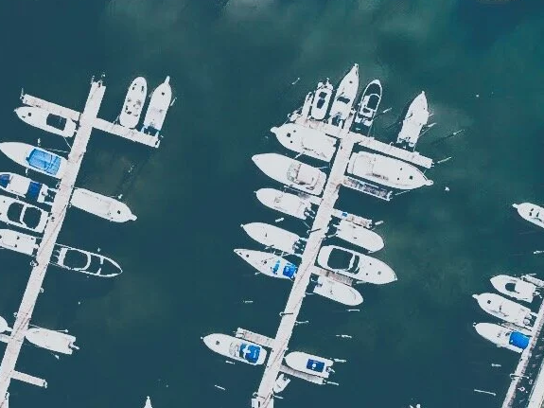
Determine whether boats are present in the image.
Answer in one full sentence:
Yes, there's a boat down there.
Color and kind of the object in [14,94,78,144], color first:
white boat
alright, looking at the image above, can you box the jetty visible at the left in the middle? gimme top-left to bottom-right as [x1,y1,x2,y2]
[0,81,164,408]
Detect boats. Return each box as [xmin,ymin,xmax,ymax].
[282,352,339,383]
[474,294,539,337]
[233,248,300,282]
[305,274,364,308]
[270,124,340,167]
[24,328,81,357]
[14,94,78,144]
[120,76,149,129]
[342,151,440,190]
[346,79,388,138]
[0,196,51,237]
[201,334,269,374]
[275,371,290,394]
[69,187,137,222]
[314,244,397,285]
[514,203,544,231]
[488,276,543,309]
[324,64,359,137]
[0,142,69,184]
[397,88,428,149]
[308,80,333,126]
[252,153,329,199]
[0,171,56,208]
[472,321,532,357]
[0,228,40,259]
[43,240,123,277]
[239,222,308,258]
[142,75,173,138]
[254,188,319,226]
[326,216,384,251]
